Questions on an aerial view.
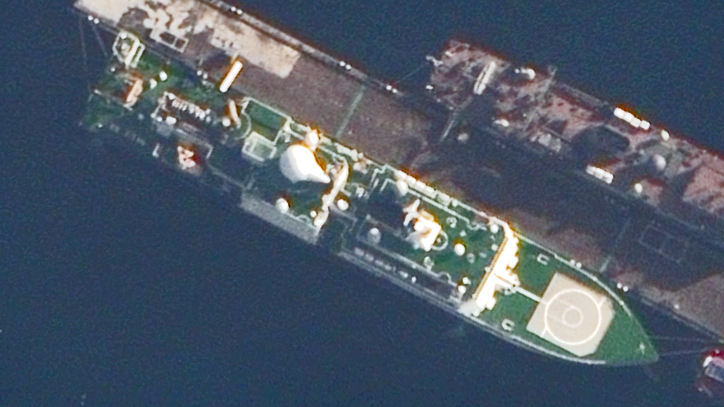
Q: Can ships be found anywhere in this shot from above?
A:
Yes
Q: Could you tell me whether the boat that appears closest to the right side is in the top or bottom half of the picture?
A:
bottom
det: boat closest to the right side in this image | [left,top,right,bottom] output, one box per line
[698,346,724,397]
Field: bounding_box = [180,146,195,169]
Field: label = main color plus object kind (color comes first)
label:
white boat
